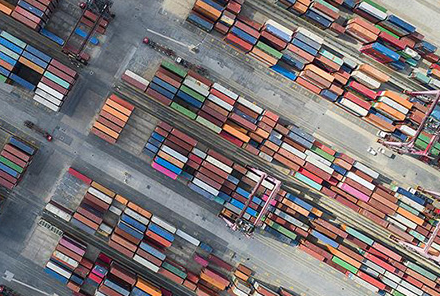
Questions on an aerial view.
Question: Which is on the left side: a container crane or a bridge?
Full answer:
The feature located on the left side is a container crane.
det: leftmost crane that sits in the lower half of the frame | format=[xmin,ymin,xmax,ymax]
[214,163,282,240]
